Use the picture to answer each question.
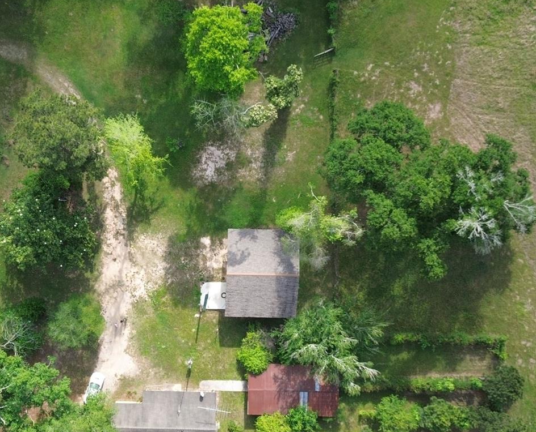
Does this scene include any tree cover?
Yes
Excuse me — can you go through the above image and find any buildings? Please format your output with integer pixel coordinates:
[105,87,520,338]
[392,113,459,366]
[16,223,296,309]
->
[225,229,299,317]
[106,389,217,432]
[246,364,338,417]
